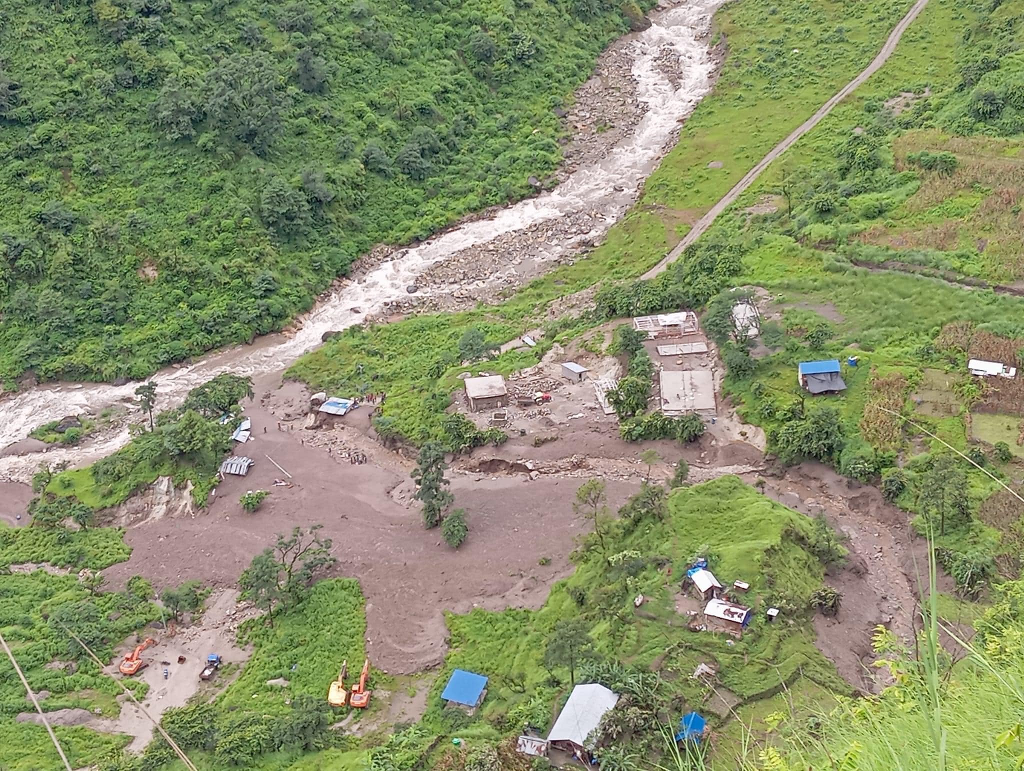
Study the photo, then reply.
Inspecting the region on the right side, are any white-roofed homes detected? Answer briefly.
Yes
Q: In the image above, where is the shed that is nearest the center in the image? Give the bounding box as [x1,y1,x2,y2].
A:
[465,375,508,411]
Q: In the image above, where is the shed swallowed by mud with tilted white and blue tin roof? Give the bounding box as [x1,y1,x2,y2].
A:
[321,395,352,419]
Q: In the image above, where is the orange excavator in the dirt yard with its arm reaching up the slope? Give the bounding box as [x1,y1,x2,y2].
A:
[118,638,154,678]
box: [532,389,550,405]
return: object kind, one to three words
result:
work vehicle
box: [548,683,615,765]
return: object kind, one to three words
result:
house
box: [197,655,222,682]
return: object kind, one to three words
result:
truck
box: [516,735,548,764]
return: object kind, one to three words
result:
shed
